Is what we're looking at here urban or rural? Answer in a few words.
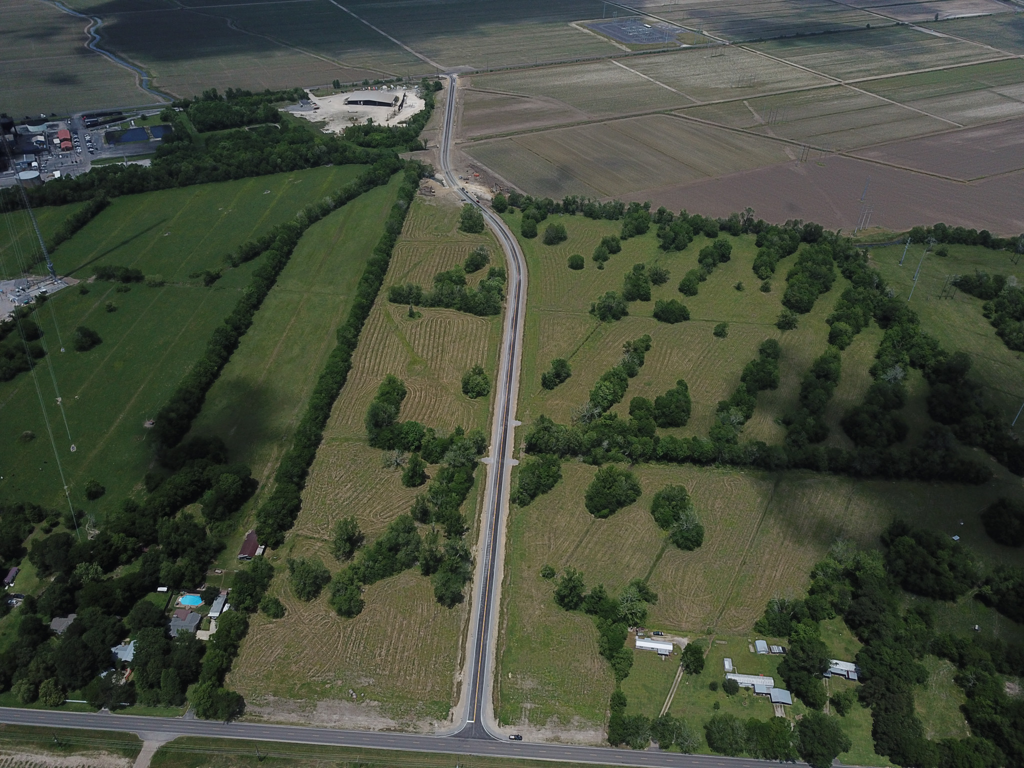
rural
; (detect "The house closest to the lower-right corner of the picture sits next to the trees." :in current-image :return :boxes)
[828,661,857,682]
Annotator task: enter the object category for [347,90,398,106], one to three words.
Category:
building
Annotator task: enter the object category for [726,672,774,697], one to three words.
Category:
house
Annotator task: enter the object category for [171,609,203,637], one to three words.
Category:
house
